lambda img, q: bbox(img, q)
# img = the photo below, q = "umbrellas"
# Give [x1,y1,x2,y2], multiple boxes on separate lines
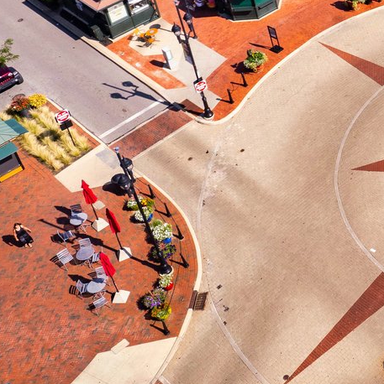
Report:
[84,189,111,232]
[109,220,137,263]
[105,261,135,307]
[84,171,111,213]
